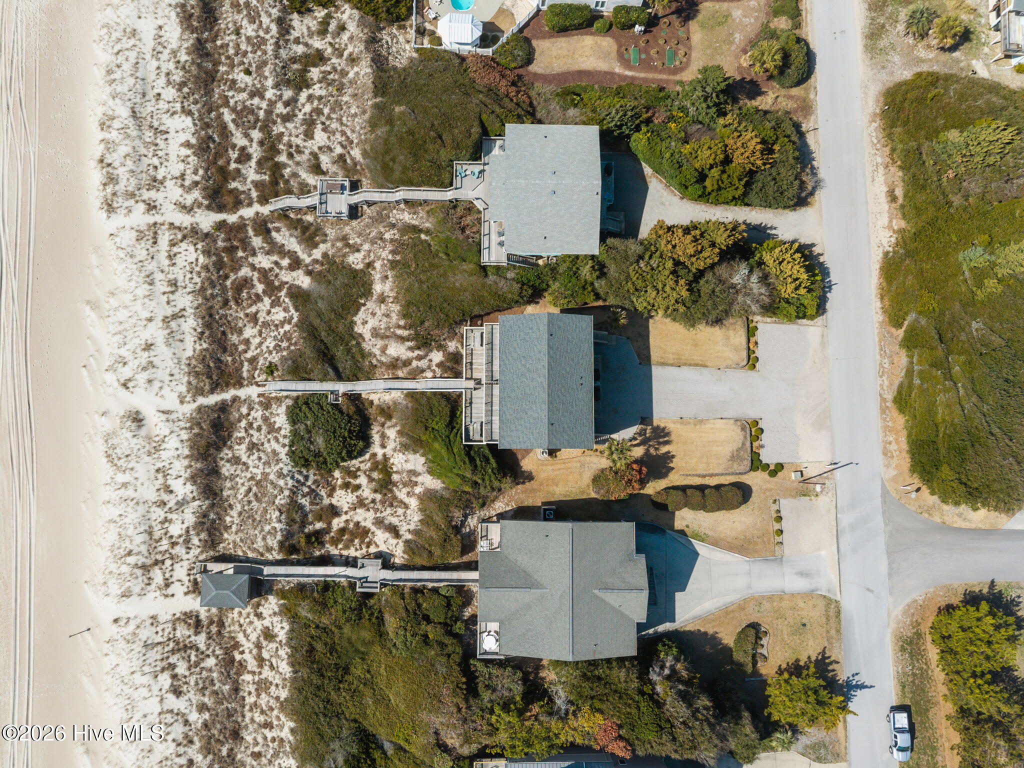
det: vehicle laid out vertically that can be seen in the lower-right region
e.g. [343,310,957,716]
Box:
[886,709,913,760]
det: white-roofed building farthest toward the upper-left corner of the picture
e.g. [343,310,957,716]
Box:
[438,12,482,55]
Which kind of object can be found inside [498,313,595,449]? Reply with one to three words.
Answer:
house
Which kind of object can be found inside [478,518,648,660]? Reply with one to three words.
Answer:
house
